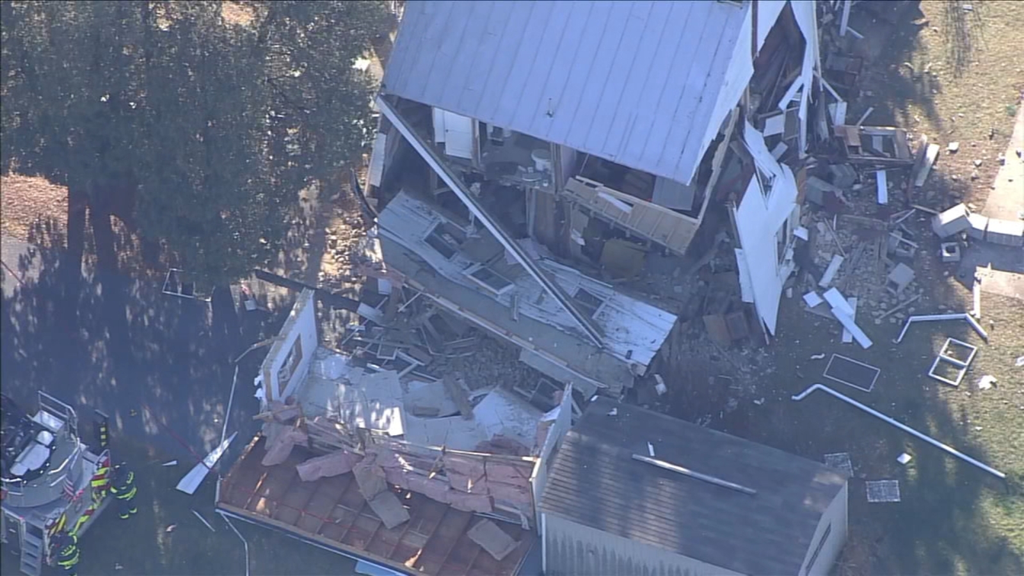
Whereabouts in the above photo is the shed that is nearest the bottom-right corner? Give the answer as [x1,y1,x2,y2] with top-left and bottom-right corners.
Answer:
[538,395,848,576]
